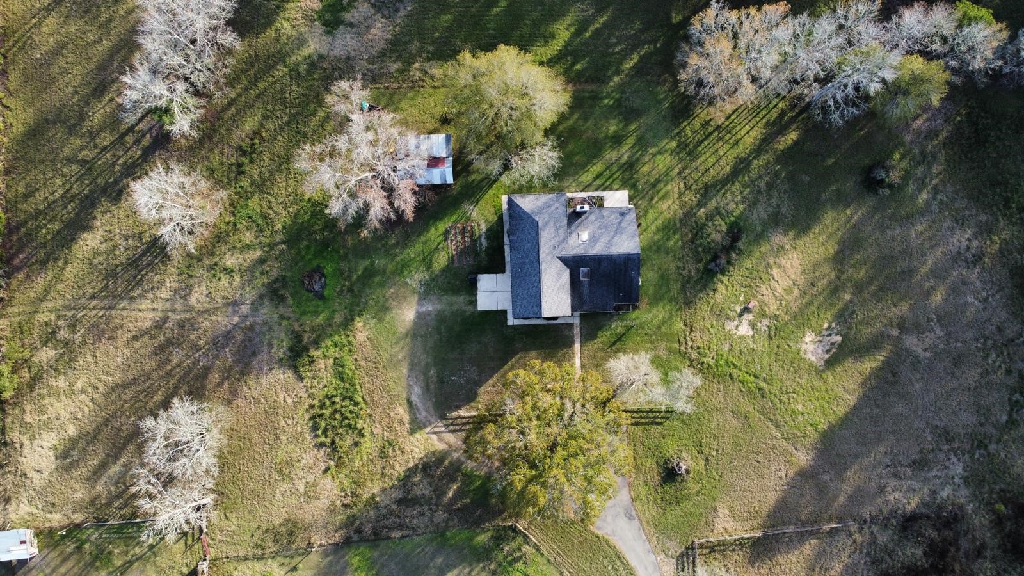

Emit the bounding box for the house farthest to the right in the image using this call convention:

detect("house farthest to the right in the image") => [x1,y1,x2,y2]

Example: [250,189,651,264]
[506,192,640,319]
